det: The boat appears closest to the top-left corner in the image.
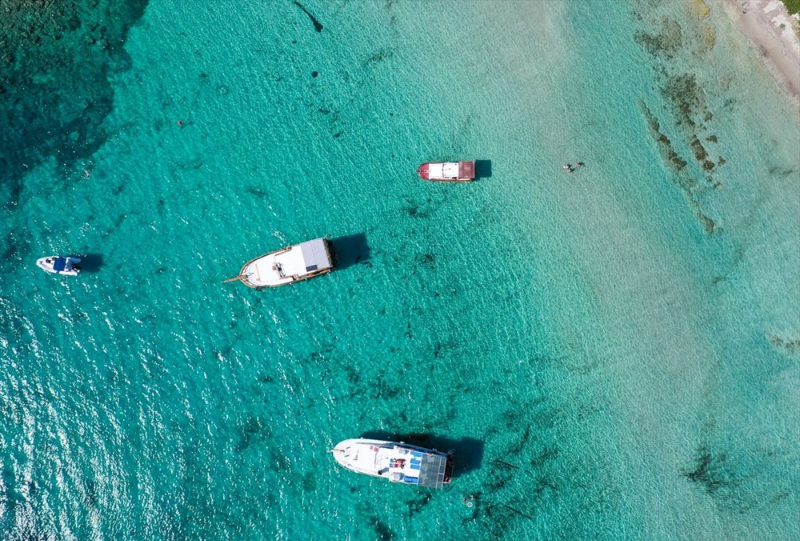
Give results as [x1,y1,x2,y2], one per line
[36,256,81,277]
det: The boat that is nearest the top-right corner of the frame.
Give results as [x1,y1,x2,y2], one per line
[417,161,477,182]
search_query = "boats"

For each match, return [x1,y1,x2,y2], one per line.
[328,439,455,490]
[417,161,477,182]
[224,235,340,286]
[36,256,81,277]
